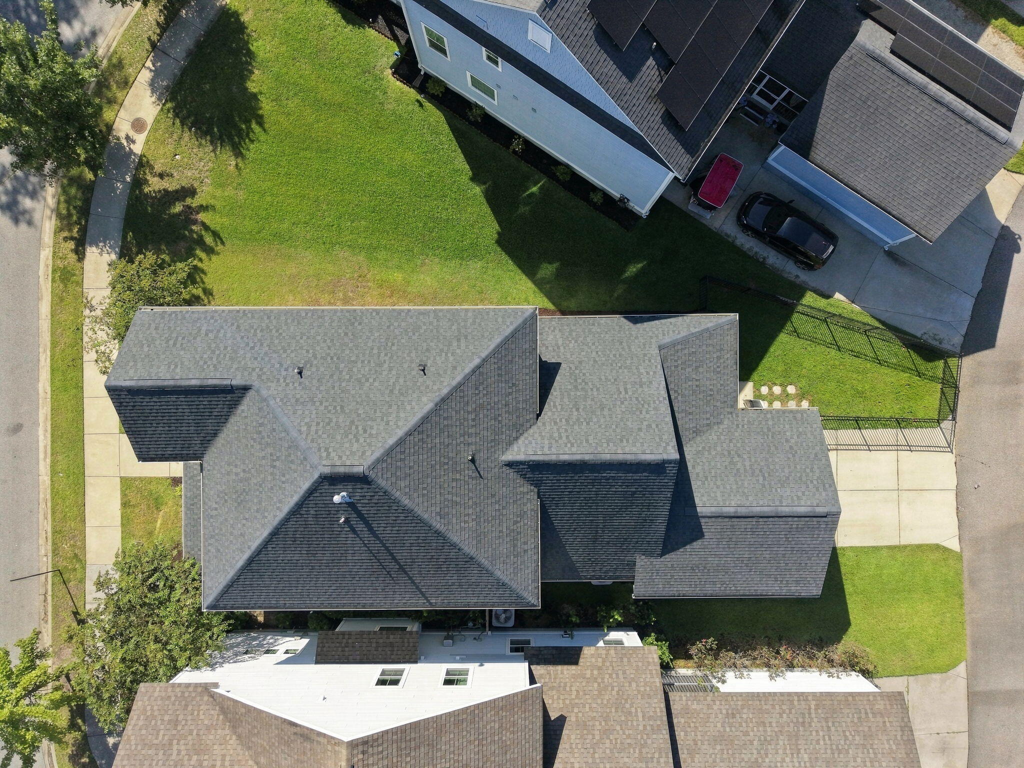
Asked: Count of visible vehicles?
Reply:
two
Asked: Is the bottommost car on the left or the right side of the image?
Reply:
right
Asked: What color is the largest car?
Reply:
black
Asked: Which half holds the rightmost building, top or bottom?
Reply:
top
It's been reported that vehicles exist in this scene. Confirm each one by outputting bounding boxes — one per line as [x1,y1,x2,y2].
[684,152,744,224]
[735,191,844,274]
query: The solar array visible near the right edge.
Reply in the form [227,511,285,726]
[847,0,1024,130]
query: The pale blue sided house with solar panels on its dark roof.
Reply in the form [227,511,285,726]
[387,0,813,218]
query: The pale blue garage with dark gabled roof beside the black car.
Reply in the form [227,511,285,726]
[737,0,1024,255]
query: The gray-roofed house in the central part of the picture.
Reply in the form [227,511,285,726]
[107,302,843,612]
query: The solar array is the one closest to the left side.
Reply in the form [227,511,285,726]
[587,0,773,131]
